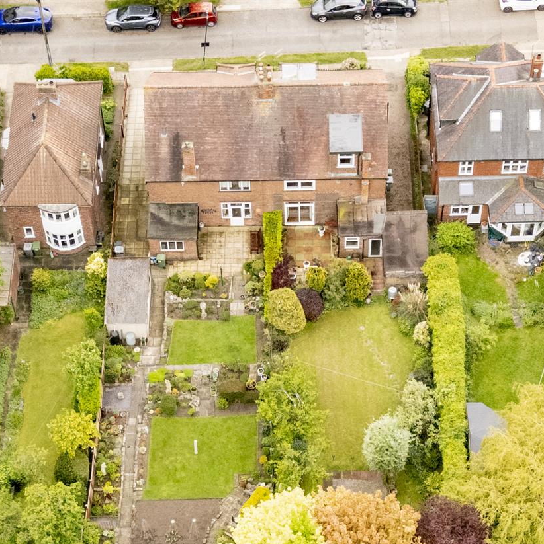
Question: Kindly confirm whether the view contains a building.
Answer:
Yes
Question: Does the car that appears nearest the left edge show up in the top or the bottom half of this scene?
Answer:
top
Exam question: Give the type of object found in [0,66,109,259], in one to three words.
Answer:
house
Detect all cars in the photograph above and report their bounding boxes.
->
[172,0,219,27]
[311,0,369,21]
[106,0,162,30]
[499,0,544,13]
[372,0,417,18]
[0,2,54,32]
